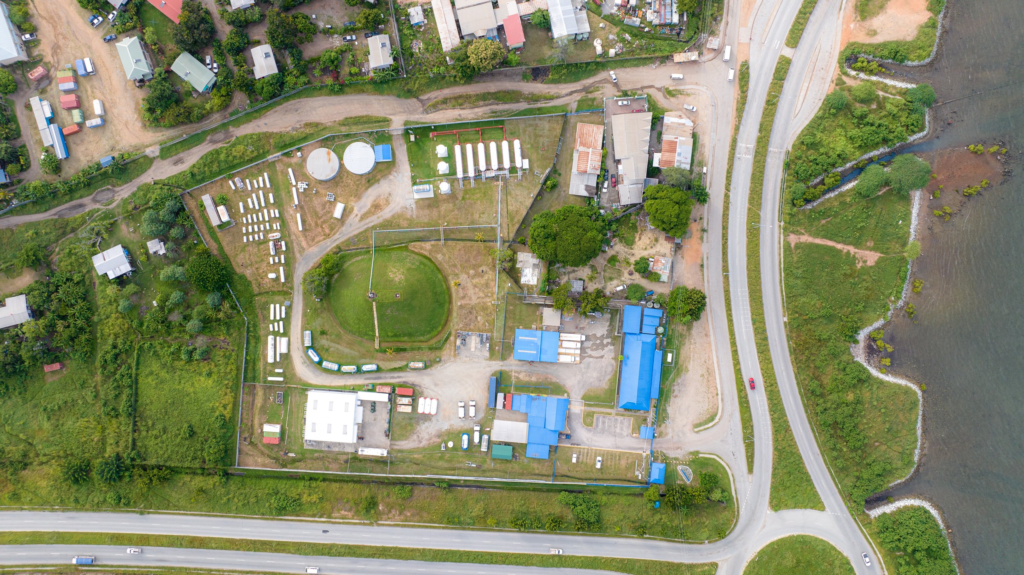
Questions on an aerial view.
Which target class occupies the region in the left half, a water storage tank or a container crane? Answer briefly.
water storage tank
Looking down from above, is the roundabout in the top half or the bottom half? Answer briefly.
bottom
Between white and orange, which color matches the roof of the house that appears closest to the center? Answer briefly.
white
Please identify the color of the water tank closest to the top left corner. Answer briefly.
white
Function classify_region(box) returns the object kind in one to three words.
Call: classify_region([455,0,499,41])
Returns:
building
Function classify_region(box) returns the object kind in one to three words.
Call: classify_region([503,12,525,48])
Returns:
house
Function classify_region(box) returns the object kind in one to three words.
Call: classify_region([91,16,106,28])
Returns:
vehicle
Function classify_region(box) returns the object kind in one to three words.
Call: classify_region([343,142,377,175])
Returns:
water tank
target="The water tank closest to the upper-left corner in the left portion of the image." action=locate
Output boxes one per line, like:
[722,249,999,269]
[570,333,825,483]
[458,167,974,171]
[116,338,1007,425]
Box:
[306,147,341,181]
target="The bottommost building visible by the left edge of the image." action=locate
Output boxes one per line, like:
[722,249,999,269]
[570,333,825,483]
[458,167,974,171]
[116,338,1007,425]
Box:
[0,295,35,326]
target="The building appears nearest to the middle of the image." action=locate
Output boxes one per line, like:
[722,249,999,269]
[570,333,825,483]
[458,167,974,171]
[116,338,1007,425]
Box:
[517,252,539,285]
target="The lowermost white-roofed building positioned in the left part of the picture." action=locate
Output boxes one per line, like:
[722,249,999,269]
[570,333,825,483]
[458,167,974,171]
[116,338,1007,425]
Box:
[304,388,389,443]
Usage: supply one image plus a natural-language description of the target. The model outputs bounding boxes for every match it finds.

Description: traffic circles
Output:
[715,508,881,575]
